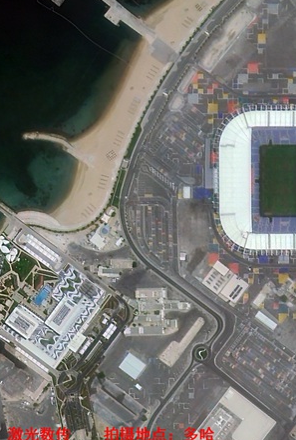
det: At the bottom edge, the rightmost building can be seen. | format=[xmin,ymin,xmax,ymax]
[221,386,279,440]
